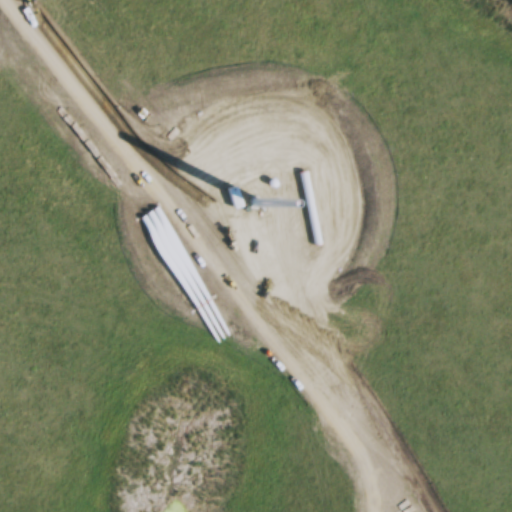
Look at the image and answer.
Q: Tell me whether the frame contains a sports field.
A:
No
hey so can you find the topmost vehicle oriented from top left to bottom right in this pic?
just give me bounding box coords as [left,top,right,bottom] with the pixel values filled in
[20,2,39,28]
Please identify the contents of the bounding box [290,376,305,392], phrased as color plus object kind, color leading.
white vehicle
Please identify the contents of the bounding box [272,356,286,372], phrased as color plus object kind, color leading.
white vehicle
